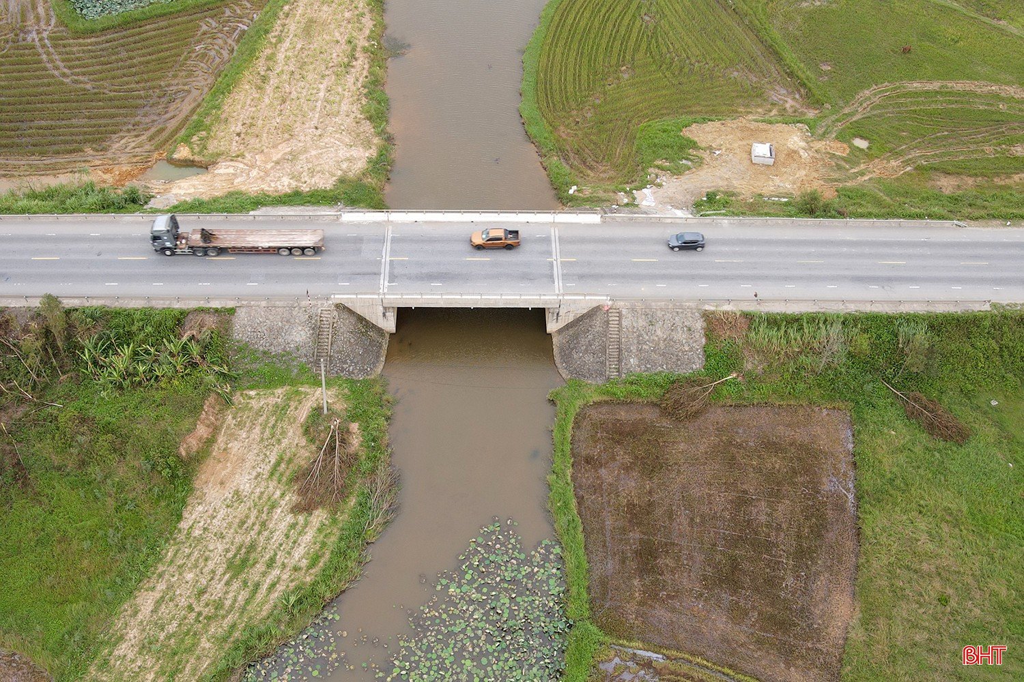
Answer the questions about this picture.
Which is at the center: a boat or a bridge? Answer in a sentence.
There is a bridge at the center.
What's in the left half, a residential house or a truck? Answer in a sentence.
There is a truck in the left half.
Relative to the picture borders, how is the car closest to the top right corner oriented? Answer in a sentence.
In this picture, the car closest to the top right corner lies from side to side.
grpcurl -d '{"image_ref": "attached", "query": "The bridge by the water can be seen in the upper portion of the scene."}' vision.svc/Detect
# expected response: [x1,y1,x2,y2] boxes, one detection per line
[330,210,611,333]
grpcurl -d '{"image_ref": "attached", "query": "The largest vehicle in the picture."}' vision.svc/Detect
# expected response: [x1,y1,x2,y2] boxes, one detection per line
[147,215,327,256]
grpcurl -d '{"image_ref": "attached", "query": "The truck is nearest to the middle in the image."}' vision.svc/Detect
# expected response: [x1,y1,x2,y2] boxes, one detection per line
[468,225,519,249]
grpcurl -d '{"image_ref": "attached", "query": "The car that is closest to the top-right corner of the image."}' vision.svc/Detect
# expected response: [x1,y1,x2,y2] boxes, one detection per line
[668,229,709,250]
